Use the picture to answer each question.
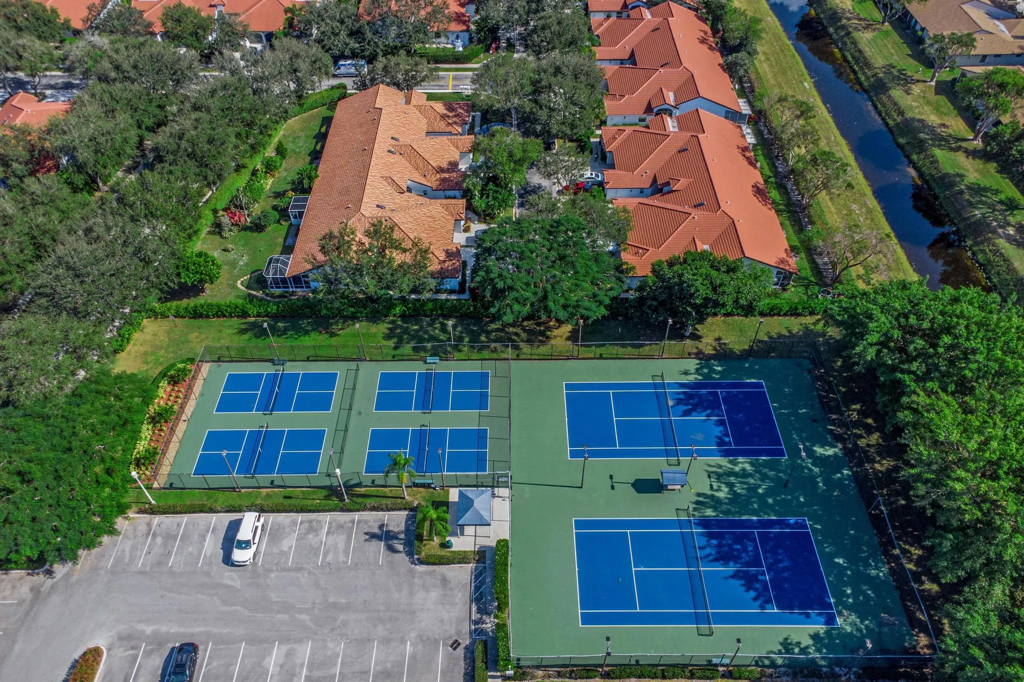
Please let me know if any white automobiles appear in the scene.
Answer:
Yes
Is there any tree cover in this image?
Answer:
Yes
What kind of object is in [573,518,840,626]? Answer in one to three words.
tennis court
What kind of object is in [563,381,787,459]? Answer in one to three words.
tennis court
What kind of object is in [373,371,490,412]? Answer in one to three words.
sports court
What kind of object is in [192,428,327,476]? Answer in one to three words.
sports court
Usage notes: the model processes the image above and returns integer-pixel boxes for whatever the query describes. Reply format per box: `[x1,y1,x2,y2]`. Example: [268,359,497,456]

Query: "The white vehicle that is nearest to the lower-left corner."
[231,514,262,563]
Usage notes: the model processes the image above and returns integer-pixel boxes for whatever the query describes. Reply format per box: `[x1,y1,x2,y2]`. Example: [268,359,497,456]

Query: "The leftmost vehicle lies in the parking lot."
[161,640,197,682]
